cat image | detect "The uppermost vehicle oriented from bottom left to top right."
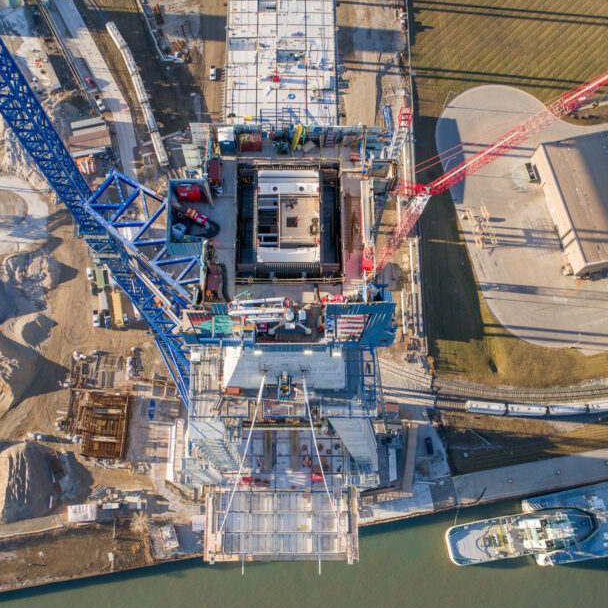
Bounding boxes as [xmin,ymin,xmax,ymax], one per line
[152,39,170,54]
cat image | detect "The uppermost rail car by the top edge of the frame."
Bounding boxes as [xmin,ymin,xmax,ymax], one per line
[105,23,128,52]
